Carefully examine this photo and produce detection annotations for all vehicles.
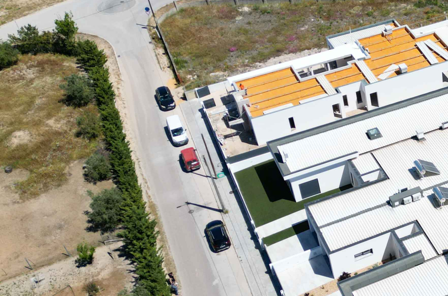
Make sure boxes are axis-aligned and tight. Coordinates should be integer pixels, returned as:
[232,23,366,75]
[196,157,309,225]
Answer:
[160,109,189,147]
[201,220,234,258]
[152,83,177,112]
[177,147,201,175]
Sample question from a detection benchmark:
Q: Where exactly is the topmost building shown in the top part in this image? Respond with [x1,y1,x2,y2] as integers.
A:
[228,19,448,146]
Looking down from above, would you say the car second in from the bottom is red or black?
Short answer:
red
